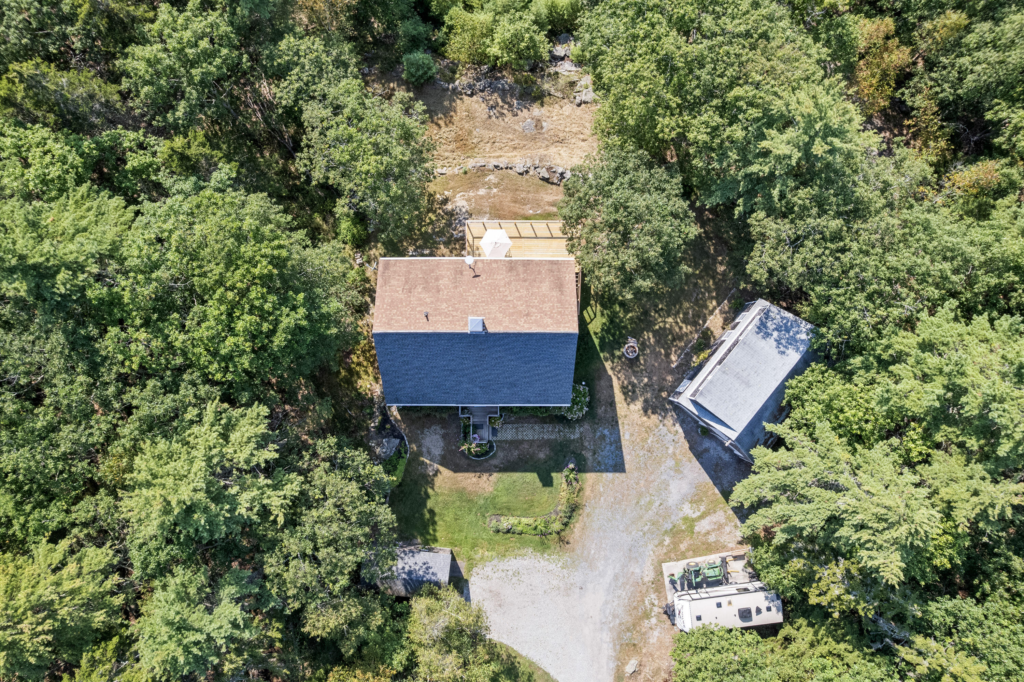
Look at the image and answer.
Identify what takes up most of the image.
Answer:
trees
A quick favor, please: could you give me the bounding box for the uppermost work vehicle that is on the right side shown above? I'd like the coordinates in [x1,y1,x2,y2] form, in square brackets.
[670,555,736,587]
